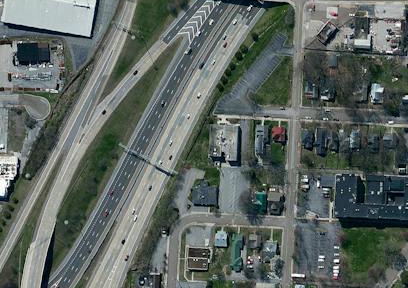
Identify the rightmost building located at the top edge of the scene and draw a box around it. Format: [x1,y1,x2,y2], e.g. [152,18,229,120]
[373,2,406,20]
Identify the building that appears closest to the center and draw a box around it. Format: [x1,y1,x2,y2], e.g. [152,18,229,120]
[210,124,240,165]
